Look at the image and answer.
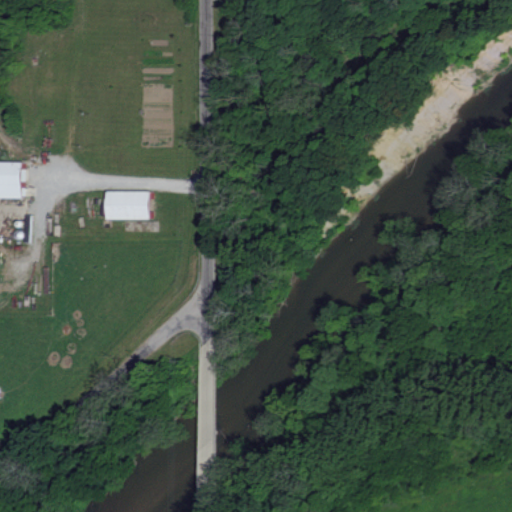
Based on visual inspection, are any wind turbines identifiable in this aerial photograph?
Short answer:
No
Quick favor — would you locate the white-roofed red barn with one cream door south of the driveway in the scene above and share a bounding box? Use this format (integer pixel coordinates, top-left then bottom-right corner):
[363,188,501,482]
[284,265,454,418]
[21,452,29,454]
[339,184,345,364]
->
[104,192,154,220]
